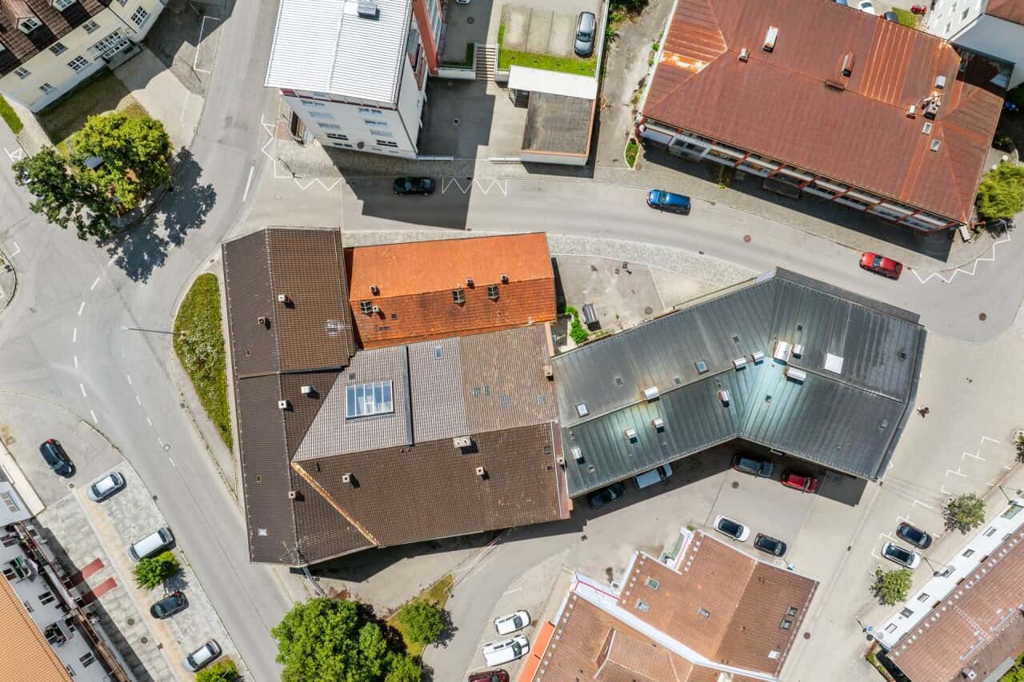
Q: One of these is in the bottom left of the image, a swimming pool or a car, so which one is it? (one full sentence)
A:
It is a car that can be seen in the bottom left of the image.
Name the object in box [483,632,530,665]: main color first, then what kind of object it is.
white van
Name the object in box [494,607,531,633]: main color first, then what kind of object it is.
white car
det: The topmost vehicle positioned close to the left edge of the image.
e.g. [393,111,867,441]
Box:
[42,436,77,477]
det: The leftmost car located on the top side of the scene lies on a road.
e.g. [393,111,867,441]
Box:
[395,175,435,196]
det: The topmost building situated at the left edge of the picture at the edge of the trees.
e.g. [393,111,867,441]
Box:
[0,0,171,112]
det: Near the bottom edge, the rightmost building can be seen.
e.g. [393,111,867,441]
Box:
[879,503,1024,682]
